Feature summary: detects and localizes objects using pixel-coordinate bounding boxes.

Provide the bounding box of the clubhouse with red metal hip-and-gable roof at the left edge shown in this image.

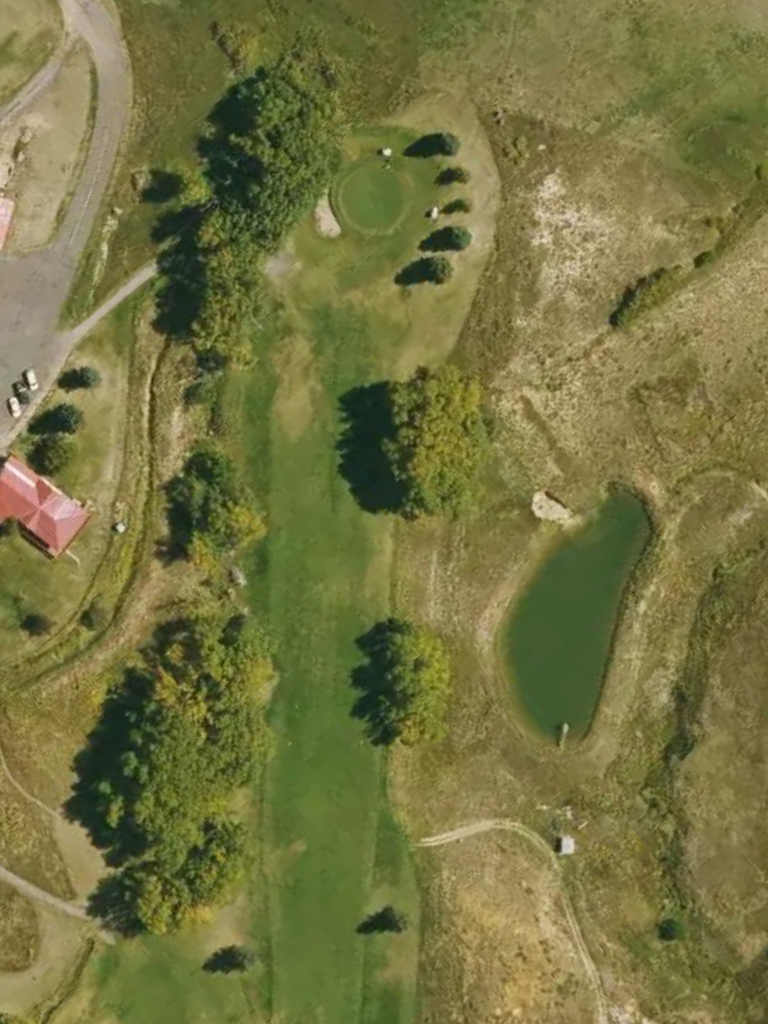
[0,456,87,557]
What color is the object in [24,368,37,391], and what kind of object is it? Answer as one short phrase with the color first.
white vehicle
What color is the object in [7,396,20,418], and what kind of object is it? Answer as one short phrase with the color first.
white vehicle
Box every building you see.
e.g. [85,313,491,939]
[560,836,572,854]
[0,200,10,249]
[0,456,87,557]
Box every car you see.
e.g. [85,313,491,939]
[24,368,37,391]
[7,396,20,418]
[14,379,28,403]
